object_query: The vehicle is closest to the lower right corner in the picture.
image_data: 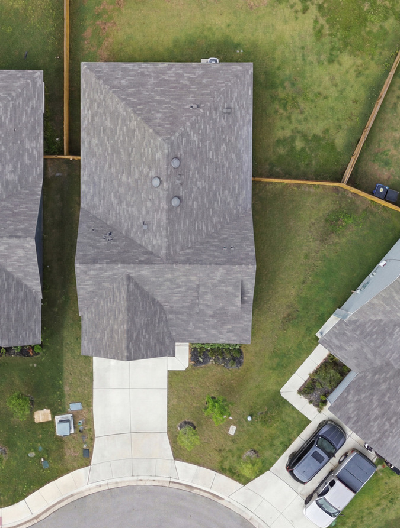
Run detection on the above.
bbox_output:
[302,449,374,528]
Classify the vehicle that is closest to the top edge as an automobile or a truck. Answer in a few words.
automobile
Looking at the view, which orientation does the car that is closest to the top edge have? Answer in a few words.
diagonally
